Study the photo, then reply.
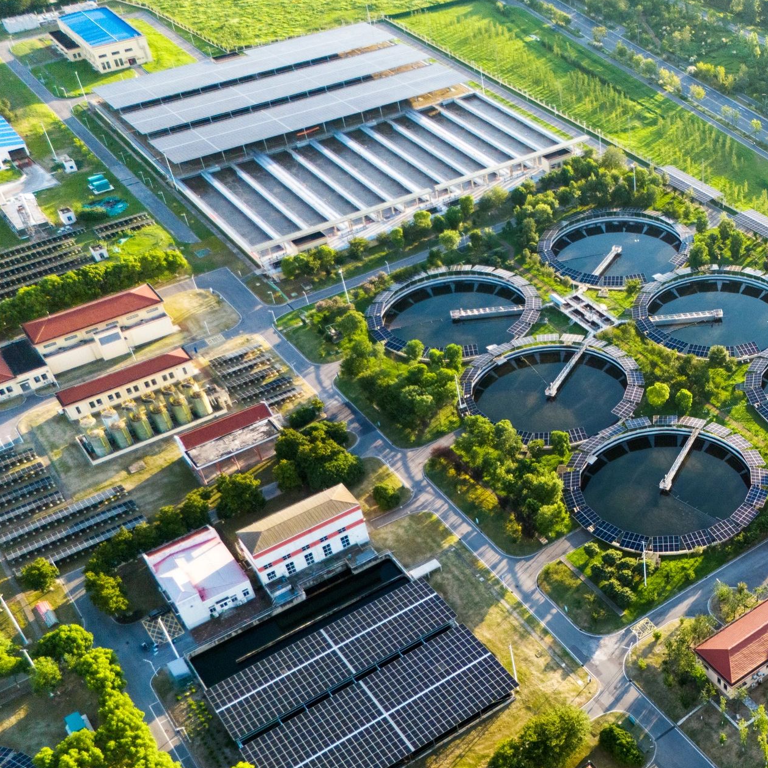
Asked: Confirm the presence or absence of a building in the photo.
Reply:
Yes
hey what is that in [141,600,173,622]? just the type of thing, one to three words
car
